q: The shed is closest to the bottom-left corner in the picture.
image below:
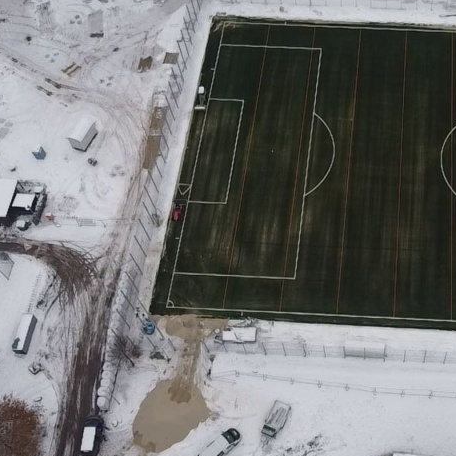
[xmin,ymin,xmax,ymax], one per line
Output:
[14,314,38,354]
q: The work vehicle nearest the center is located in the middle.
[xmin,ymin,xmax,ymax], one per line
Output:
[173,195,188,220]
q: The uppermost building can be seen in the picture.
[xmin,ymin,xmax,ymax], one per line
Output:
[66,116,98,151]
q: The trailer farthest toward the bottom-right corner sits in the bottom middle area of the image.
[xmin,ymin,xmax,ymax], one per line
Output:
[260,399,292,449]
